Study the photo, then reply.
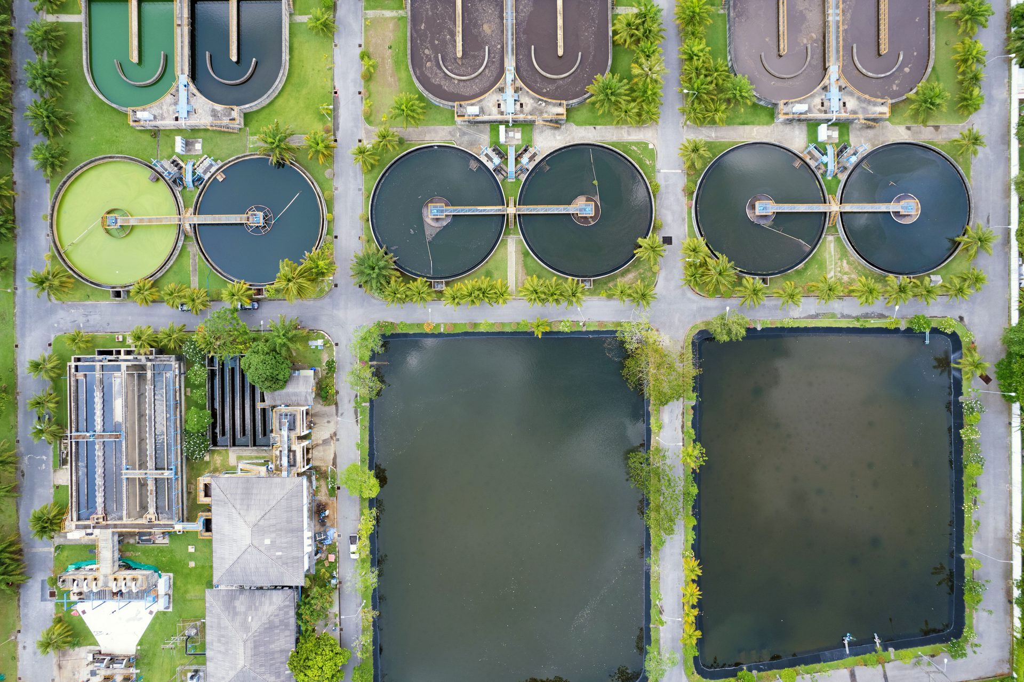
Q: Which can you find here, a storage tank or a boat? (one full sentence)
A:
This aerial view contains a storage tank.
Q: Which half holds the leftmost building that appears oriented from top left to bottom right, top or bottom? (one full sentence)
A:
The leftmost building that appears oriented from top left to bottom right is in the top half of the image.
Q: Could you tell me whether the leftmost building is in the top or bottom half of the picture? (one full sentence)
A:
Seen from above, the leftmost building lies in the bottom half of the view.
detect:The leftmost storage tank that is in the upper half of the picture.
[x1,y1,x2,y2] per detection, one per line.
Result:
[51,155,189,297]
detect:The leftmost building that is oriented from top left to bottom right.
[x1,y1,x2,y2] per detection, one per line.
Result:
[151,156,187,190]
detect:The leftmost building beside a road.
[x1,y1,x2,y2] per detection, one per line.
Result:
[57,567,160,600]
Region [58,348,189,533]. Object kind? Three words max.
storage tank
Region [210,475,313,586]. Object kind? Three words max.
building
